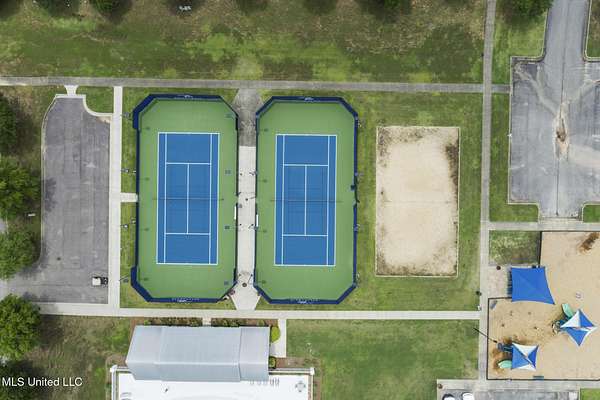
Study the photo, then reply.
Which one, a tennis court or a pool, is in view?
tennis court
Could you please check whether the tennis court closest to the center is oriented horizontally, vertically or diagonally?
vertically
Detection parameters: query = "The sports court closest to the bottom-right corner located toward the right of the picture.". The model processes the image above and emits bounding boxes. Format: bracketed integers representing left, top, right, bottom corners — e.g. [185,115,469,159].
[376,126,460,277]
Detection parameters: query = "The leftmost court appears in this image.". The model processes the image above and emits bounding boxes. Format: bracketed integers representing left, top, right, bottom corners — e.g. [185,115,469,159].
[137,99,239,299]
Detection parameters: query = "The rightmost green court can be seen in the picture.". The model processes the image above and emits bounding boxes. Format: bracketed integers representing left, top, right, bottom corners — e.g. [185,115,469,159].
[256,101,355,300]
